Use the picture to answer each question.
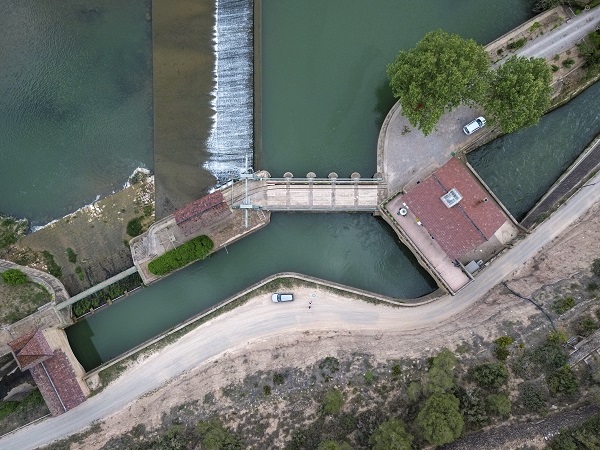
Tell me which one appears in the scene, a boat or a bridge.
bridge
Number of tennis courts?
none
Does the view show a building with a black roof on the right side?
No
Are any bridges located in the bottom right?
No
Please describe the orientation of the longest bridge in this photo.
from left to right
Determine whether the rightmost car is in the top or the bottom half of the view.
top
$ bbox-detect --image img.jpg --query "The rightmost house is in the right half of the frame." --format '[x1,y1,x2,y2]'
[402,158,508,259]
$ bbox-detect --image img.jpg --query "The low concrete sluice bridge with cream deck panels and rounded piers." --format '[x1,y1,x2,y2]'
[229,172,388,210]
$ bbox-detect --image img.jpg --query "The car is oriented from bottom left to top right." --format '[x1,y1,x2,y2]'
[461,116,486,136]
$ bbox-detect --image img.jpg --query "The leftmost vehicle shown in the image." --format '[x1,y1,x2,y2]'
[272,291,294,304]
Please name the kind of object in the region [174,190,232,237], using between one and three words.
shed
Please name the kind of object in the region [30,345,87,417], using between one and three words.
house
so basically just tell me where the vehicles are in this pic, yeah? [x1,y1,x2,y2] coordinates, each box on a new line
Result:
[272,291,294,304]
[461,116,486,136]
